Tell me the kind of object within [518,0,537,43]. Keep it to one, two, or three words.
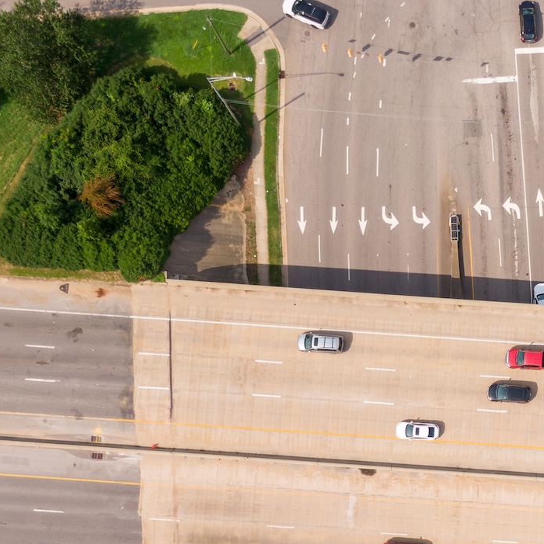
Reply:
car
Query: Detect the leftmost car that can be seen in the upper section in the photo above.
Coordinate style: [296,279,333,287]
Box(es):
[286,0,330,27]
